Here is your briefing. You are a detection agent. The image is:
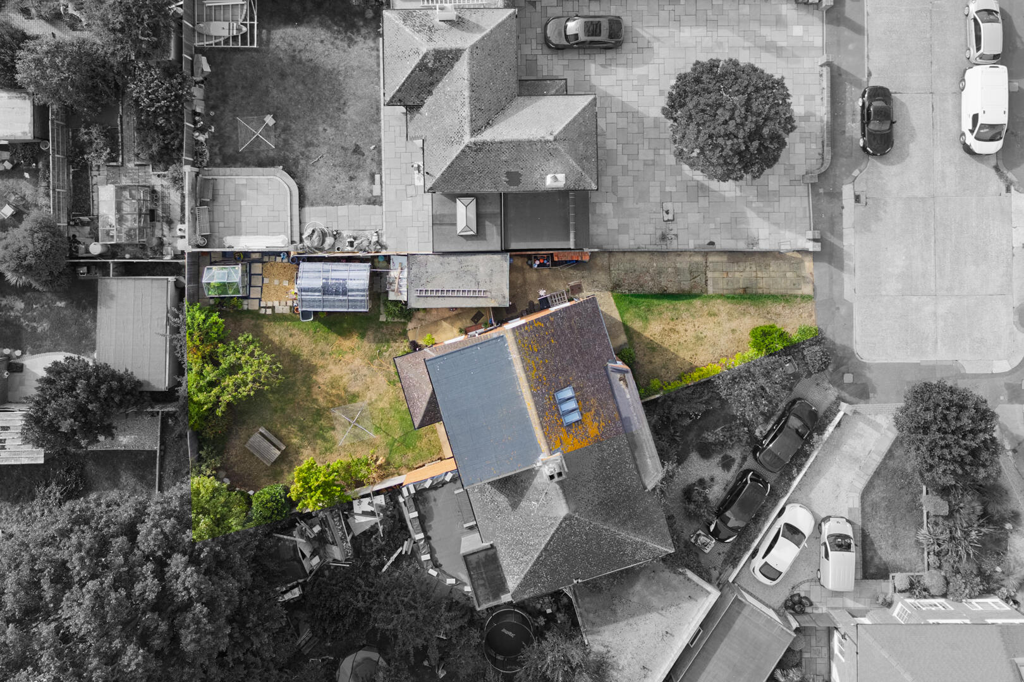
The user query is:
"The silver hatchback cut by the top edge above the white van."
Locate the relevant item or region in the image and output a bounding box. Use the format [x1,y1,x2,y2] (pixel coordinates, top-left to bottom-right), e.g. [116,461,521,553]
[954,0,1002,68]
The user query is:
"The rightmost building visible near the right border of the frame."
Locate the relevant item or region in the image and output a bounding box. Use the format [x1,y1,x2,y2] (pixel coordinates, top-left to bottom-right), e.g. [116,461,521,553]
[822,592,1024,682]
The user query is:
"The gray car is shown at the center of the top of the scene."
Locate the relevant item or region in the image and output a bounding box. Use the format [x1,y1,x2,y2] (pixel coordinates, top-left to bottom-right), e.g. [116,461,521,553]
[543,10,625,54]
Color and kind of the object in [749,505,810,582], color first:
white car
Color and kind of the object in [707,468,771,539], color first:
black car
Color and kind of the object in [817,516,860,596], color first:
white van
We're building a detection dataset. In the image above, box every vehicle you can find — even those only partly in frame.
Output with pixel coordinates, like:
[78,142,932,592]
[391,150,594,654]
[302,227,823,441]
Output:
[749,505,810,582]
[955,60,1009,156]
[753,400,816,474]
[853,84,895,159]
[543,10,625,54]
[707,468,771,539]
[954,0,1002,68]
[817,516,860,596]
